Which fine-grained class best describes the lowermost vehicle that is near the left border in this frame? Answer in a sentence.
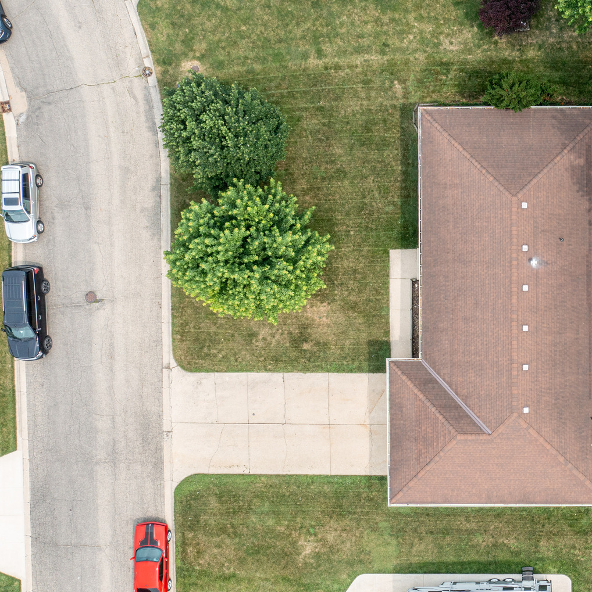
It turns out the lowermost vehicle that is near the left border is a car.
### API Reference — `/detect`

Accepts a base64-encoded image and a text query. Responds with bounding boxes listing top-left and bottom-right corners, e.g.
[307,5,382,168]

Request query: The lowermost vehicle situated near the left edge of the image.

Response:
[2,264,55,361]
